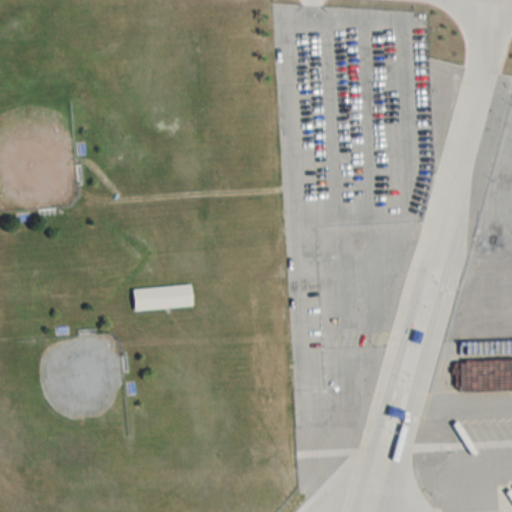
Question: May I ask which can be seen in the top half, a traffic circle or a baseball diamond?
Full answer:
It is a baseball diamond that can be seen in the top half.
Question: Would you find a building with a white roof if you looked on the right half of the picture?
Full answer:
No, no building with a white roof appears on the right half of the picture.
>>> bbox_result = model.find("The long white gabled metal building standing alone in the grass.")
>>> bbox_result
[134,284,194,314]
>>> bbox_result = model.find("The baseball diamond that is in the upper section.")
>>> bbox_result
[0,106,76,210]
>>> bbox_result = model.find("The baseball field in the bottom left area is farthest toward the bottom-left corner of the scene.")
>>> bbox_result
[39,333,122,421]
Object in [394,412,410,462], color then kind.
white vehicle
